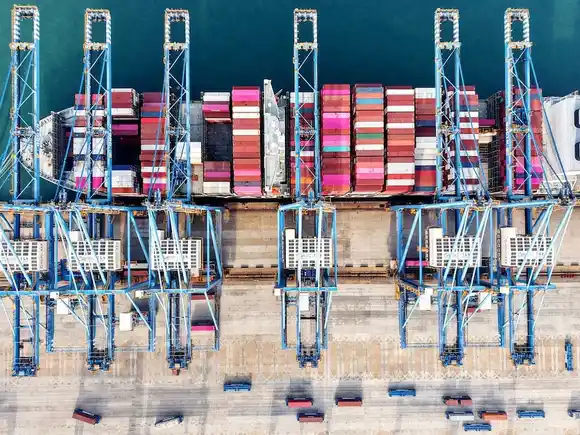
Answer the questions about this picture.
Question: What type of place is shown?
port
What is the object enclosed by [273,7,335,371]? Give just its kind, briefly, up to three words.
container crane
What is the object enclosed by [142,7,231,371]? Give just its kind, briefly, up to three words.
container crane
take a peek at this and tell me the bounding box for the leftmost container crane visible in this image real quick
[0,7,97,371]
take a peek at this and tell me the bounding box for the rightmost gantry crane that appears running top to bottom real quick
[446,7,574,371]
